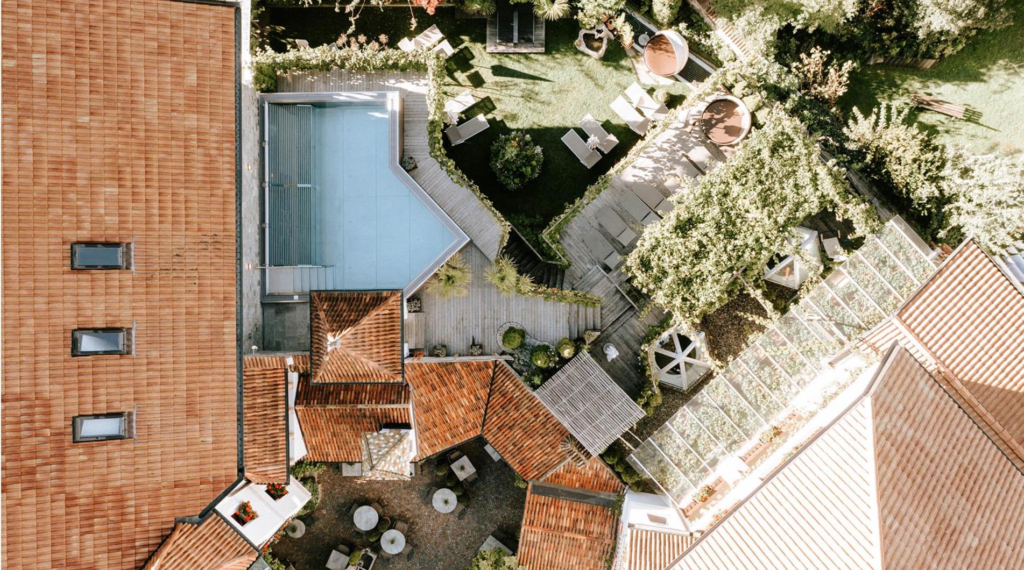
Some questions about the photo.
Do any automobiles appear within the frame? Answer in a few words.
No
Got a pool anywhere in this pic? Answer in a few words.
Yes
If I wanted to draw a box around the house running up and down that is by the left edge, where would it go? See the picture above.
[0,0,245,570]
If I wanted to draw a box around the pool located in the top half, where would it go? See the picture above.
[257,92,472,302]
